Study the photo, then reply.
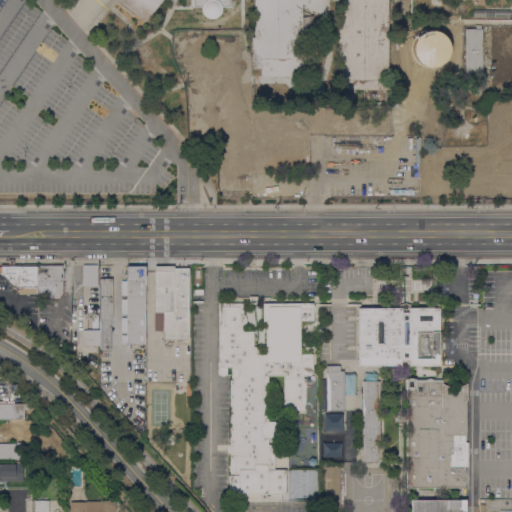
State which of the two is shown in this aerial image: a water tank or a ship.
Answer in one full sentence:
Looking from above, you can make out a water tank.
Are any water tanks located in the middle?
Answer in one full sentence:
No, the scene shows no water tank in the middle.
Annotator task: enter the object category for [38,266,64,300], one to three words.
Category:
building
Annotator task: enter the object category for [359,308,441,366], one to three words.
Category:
building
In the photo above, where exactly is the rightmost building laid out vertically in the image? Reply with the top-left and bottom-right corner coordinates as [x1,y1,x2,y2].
[464,29,483,72]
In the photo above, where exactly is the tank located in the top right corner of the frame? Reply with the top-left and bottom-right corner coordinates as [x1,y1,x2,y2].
[411,30,453,71]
